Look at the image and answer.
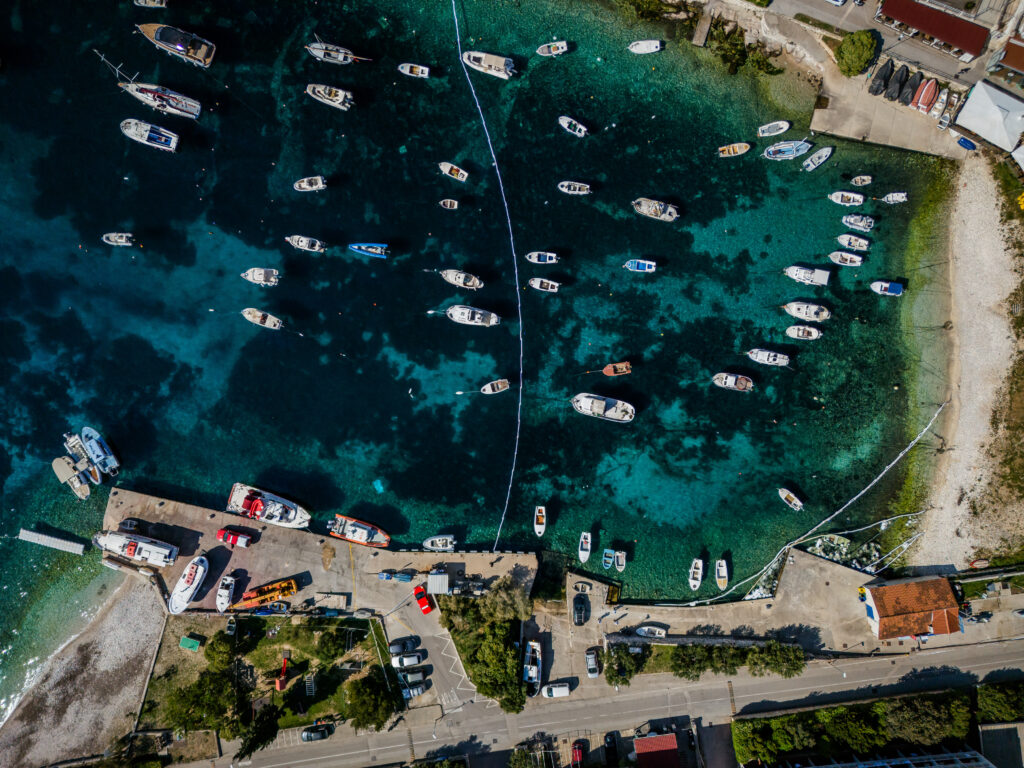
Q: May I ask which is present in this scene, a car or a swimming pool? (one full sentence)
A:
Visible in the photo is a car.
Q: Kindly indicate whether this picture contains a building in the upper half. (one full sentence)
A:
Yes, a building can be seen in the upper half.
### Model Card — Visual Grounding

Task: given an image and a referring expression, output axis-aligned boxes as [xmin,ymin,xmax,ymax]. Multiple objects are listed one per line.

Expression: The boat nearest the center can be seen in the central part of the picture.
[481,377,510,393]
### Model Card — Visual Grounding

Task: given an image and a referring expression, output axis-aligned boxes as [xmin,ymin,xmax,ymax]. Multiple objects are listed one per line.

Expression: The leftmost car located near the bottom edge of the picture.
[301,722,331,742]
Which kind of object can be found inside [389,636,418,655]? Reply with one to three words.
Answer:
car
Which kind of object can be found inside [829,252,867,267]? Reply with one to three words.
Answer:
boat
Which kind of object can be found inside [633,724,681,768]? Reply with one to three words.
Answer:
building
